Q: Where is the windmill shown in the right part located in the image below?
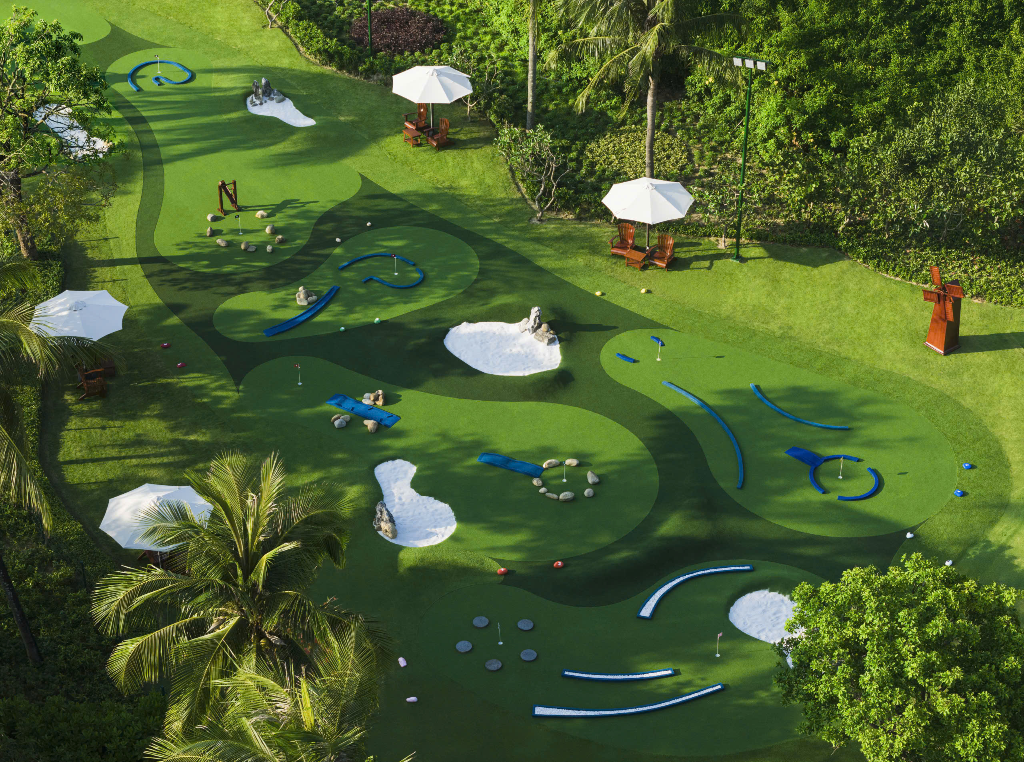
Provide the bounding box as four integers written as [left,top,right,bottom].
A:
[914,266,971,355]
